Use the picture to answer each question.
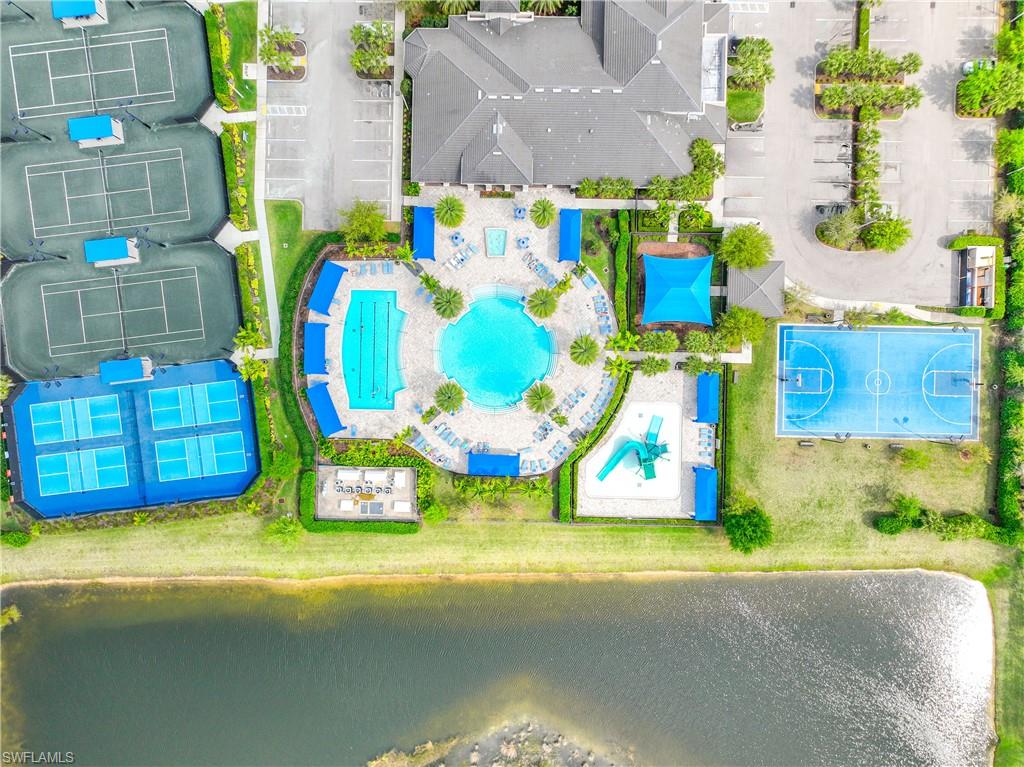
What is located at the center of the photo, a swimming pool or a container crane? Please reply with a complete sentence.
There is a swimming pool at the center of the photo.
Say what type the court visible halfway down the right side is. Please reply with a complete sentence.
The court visible halfway down the right side appears to be a basketball court.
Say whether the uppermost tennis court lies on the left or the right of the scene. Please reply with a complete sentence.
The uppermost tennis court appears in the left half of the scene.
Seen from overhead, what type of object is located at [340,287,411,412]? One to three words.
swimming pool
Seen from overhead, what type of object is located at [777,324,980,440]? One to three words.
basketball court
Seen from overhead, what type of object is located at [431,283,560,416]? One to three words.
swimming pool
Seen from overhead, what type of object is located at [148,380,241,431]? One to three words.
sports court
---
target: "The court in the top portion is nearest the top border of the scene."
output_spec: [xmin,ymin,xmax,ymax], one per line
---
[0,0,205,141]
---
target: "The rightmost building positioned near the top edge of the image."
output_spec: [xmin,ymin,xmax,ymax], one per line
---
[404,0,732,195]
